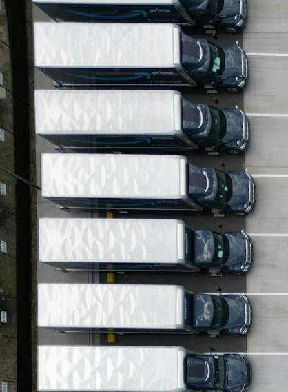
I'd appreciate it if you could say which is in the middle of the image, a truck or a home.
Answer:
truck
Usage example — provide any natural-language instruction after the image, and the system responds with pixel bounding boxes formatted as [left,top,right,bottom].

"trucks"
[34,90,250,155]
[37,217,253,274]
[31,0,247,32]
[33,22,248,92]
[36,282,252,336]
[37,345,253,392]
[40,153,255,214]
